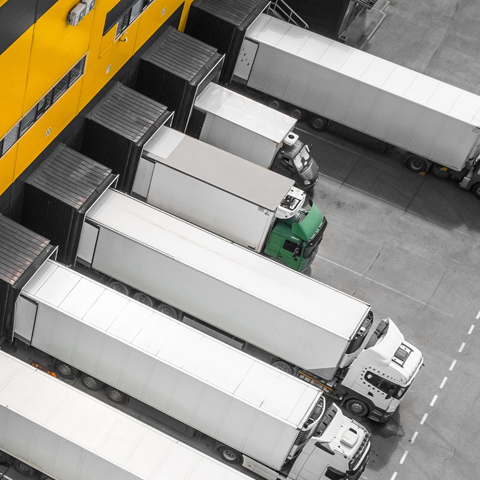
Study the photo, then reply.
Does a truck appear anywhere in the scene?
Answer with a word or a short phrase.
Yes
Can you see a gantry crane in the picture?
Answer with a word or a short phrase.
No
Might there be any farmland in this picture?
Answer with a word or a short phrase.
No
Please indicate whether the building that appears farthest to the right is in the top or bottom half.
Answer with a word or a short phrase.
top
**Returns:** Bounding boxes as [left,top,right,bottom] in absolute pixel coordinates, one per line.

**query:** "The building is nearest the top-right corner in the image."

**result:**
[268,0,362,39]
